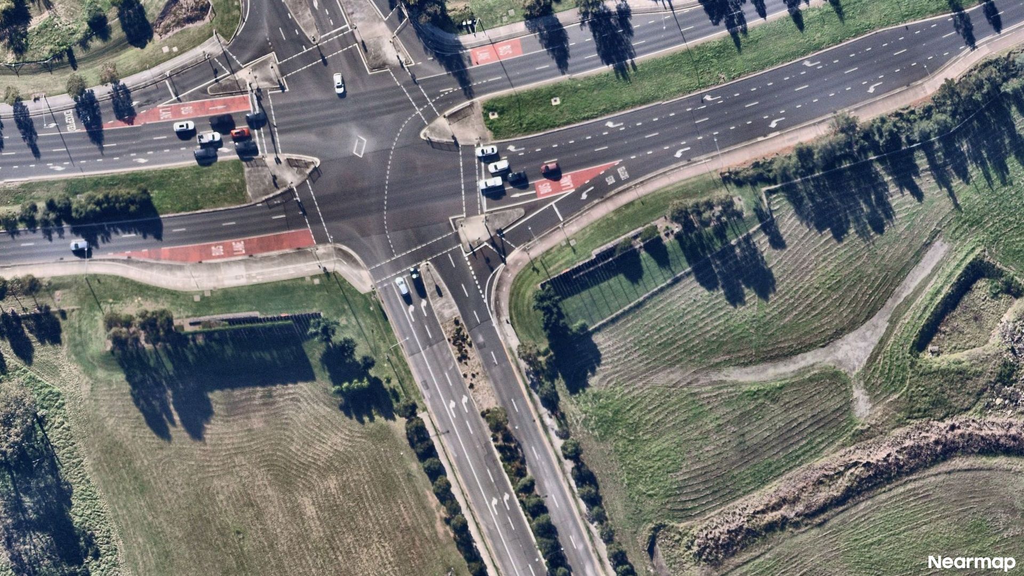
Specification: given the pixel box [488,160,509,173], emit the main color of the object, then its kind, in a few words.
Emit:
white vehicle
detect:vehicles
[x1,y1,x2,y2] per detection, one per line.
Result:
[245,113,267,123]
[173,122,194,132]
[540,164,560,174]
[409,265,423,287]
[210,116,232,126]
[397,277,410,297]
[333,73,344,95]
[193,149,217,159]
[506,171,527,182]
[230,128,250,138]
[197,133,220,143]
[70,241,89,250]
[475,146,497,157]
[488,160,509,173]
[479,178,502,190]
[235,142,257,152]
